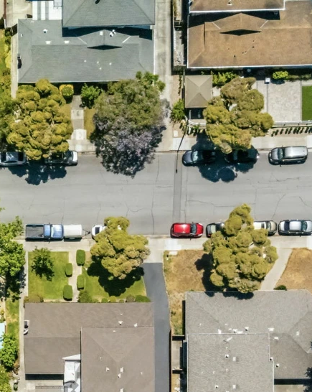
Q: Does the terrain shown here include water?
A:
No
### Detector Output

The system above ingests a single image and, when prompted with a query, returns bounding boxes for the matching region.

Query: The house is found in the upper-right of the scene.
[186,0,312,73]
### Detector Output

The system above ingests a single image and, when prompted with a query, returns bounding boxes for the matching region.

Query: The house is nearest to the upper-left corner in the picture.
[16,0,155,87]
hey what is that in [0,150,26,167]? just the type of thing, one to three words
car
